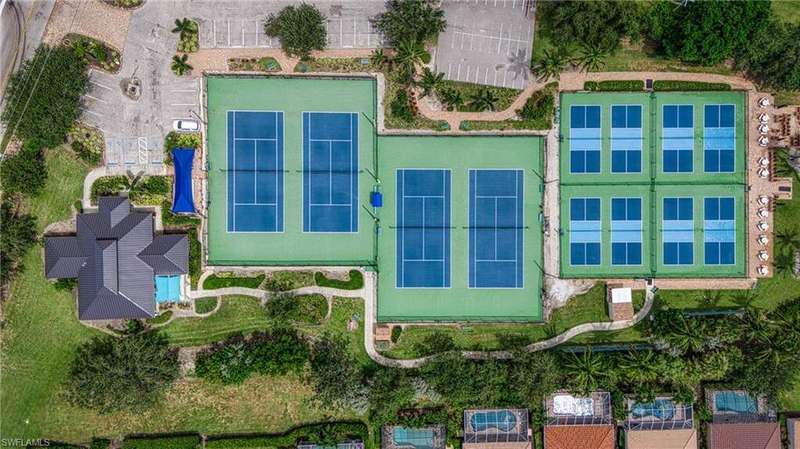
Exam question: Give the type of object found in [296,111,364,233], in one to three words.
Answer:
tennis court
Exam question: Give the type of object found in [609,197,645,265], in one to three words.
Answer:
sports court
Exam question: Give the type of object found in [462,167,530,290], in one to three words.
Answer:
tennis court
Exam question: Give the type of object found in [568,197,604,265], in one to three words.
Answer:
sports court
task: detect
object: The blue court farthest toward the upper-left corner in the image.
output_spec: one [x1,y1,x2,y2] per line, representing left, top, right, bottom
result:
[220,110,288,233]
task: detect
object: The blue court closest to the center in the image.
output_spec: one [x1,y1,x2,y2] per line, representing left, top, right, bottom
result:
[391,167,458,290]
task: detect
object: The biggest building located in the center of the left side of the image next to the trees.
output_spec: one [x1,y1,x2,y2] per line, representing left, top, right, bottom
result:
[45,197,191,319]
